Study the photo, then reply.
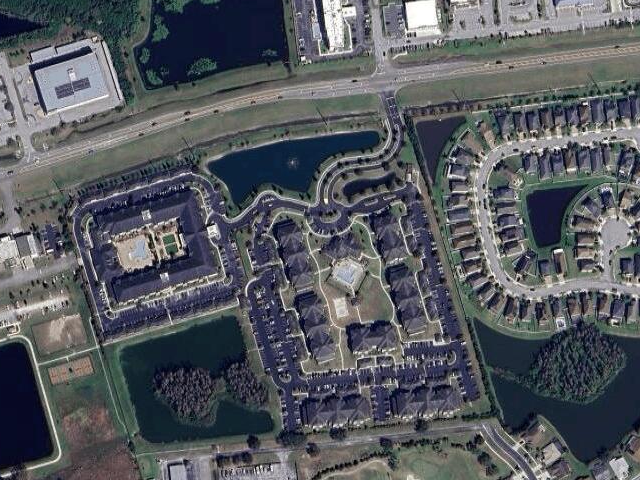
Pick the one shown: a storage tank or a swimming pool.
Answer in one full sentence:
There is a swimming pool in the scene.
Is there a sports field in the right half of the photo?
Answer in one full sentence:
No, no sports field can be made out in the right half of the photo.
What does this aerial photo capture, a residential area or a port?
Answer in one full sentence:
It's a residential area.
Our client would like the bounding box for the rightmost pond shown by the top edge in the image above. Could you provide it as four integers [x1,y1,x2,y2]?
[136,0,286,89]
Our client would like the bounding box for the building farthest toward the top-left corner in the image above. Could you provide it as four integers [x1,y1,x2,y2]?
[35,53,109,116]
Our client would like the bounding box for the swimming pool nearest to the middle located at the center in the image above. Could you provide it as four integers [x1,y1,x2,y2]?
[331,260,362,292]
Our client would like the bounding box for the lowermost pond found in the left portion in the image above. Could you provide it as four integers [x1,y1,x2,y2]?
[122,317,272,442]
